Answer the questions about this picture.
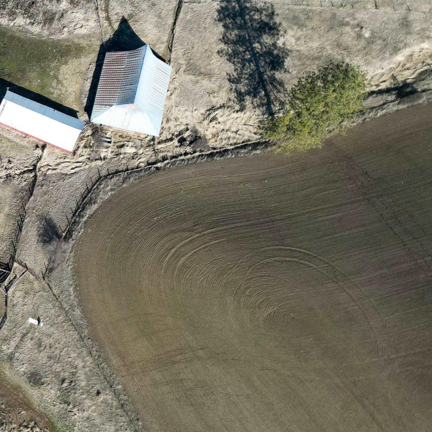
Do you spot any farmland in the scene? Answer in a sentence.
Yes, some farmland is visible.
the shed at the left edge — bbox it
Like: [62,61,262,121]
[0,90,86,155]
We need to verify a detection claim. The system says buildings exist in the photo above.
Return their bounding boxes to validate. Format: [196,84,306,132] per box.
[90,44,171,137]
[0,90,86,155]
